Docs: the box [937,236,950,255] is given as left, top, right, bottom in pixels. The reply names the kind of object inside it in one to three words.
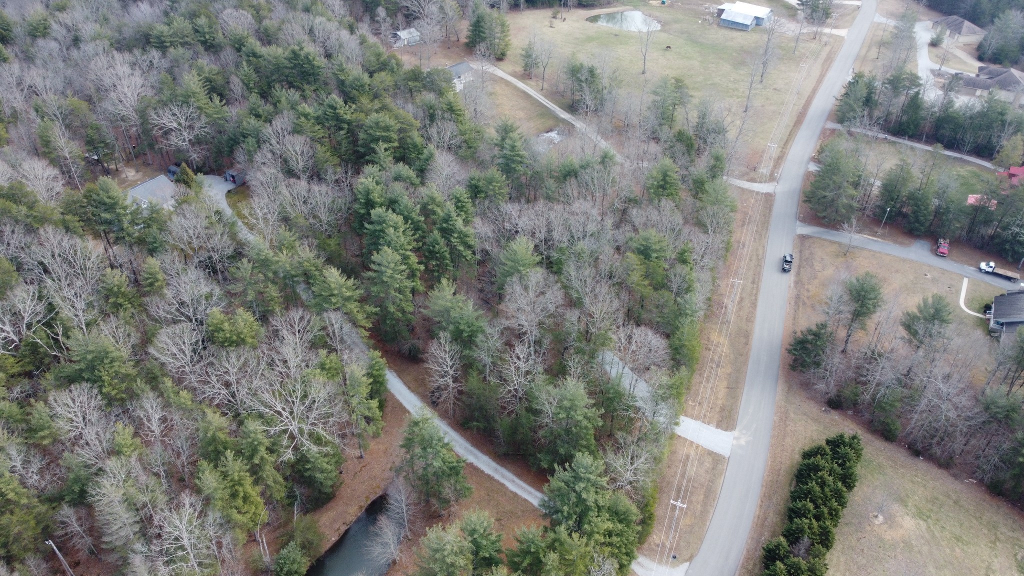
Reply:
vehicle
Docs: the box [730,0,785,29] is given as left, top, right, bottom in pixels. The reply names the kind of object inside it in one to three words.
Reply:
barn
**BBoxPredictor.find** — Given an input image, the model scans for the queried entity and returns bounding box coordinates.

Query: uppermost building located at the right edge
[930,15,988,41]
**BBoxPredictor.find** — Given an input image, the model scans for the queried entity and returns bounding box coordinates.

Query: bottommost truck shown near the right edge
[978,263,1024,284]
